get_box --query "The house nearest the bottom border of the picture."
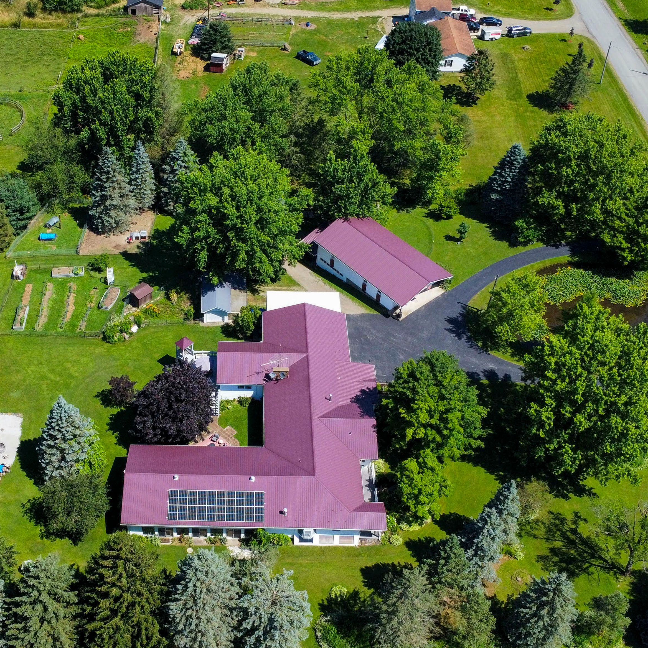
[120,302,388,553]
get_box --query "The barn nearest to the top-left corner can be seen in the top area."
[125,0,161,16]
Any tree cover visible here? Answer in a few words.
Yes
